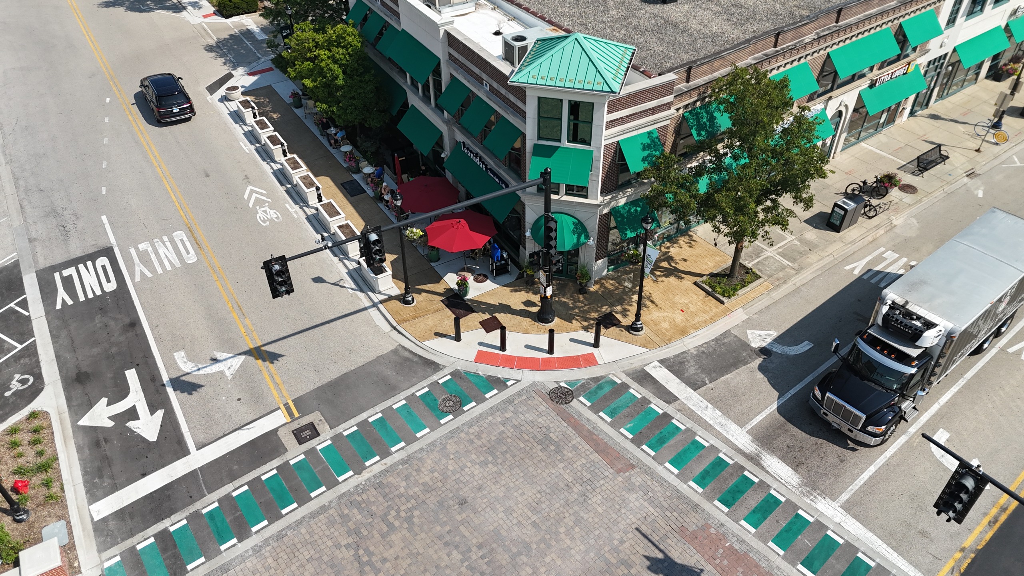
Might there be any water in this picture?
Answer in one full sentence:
No, water can't be seen anywhere here.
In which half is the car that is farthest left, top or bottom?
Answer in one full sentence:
It is in the top half that the car that is farthest left appears.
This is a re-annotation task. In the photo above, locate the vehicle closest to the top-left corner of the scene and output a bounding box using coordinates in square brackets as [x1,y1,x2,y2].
[143,82,194,125]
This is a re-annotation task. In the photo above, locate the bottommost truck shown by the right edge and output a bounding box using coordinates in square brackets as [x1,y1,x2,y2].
[811,208,1024,442]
